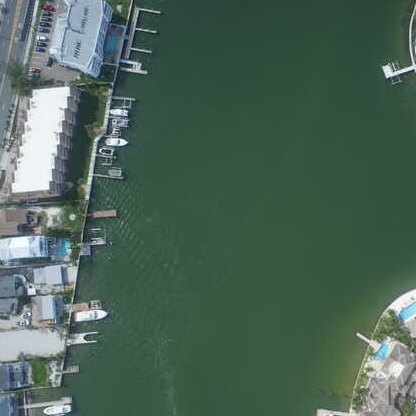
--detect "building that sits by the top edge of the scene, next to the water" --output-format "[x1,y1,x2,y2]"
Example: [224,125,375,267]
[50,0,118,77]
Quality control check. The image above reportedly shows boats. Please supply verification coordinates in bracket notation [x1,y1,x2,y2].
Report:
[99,148,115,155]
[43,406,73,414]
[110,110,129,116]
[110,171,122,176]
[112,119,129,126]
[73,310,109,322]
[105,139,129,146]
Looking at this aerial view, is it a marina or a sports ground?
marina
